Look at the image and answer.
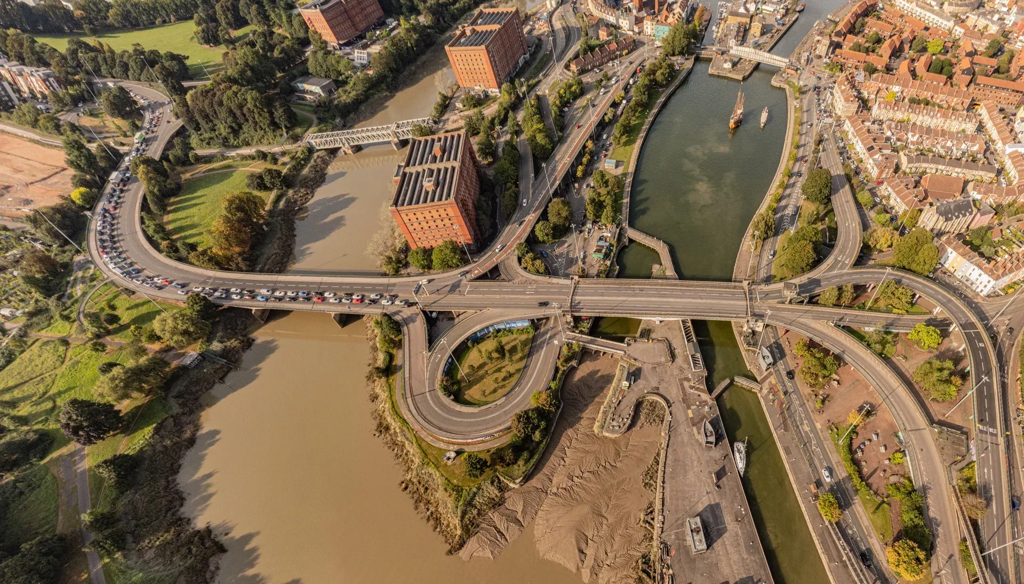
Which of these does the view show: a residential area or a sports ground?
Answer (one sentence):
The picture captures a residential area.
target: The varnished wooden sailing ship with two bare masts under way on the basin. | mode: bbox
[727,81,747,130]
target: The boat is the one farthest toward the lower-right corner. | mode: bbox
[735,441,748,476]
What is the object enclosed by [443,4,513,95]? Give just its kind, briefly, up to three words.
building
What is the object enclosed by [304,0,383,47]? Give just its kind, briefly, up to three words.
building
